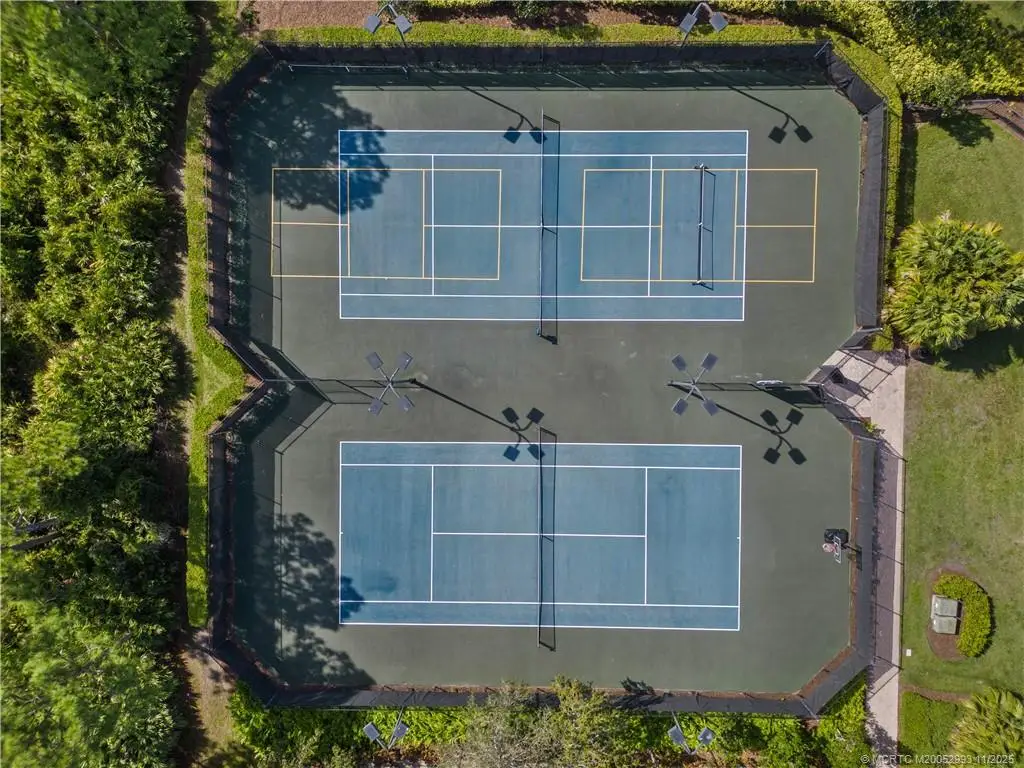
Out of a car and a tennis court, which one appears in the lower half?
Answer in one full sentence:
You can see a tennis court in the lower half.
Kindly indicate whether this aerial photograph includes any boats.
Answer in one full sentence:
No, no boat can be seen from above.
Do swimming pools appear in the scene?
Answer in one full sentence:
No, I can see no swimming pool in this picture.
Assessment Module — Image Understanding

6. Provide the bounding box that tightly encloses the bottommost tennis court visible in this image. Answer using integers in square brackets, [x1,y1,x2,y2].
[339,441,743,631]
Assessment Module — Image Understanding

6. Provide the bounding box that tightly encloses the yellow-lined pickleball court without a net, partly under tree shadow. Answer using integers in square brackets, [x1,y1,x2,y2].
[272,169,500,279]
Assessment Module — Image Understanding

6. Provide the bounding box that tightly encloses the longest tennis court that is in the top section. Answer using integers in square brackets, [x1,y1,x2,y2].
[338,130,749,321]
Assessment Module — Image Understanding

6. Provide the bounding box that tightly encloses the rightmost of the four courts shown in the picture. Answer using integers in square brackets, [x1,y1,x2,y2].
[582,170,817,281]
